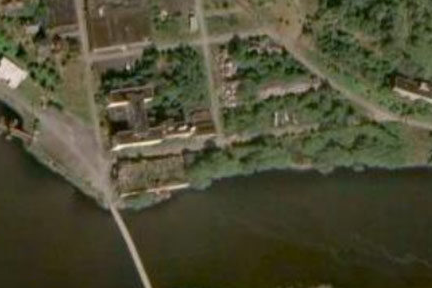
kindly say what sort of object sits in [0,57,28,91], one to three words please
house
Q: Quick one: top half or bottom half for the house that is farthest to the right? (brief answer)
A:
top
